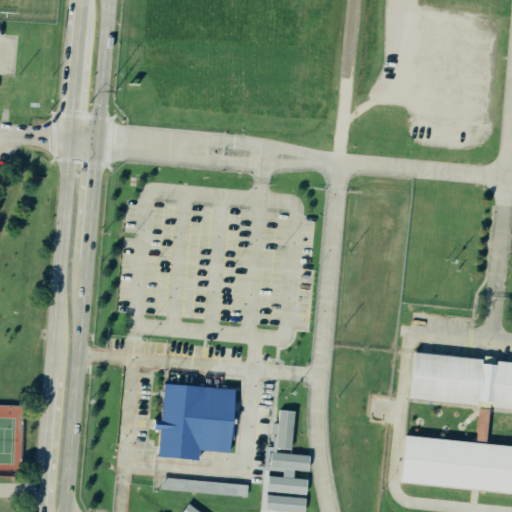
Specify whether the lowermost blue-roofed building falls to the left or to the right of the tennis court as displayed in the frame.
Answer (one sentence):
To the right of the tennis court is where the lowermost blue-roofed building appears.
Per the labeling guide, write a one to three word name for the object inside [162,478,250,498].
shed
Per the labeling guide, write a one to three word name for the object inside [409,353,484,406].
building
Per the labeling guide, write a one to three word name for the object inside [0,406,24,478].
tennis court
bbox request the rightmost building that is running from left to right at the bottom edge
[402,436,512,493]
